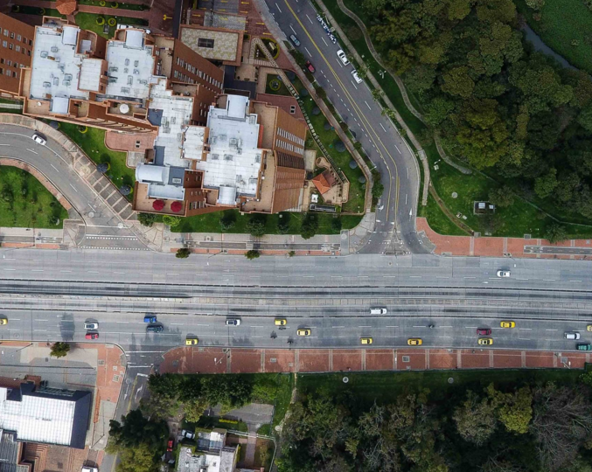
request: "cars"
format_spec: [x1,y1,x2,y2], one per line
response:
[496,270,511,276]
[478,339,493,345]
[0,318,7,326]
[185,339,199,345]
[274,318,287,326]
[297,330,311,336]
[86,333,99,339]
[337,50,349,66]
[500,321,515,328]
[587,326,592,332]
[290,33,300,47]
[361,338,373,344]
[147,325,163,331]
[180,429,197,439]
[352,70,364,84]
[564,333,580,339]
[577,344,592,351]
[408,339,422,345]
[32,133,47,145]
[226,318,242,325]
[84,323,99,329]
[476,329,492,335]
[305,60,315,73]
